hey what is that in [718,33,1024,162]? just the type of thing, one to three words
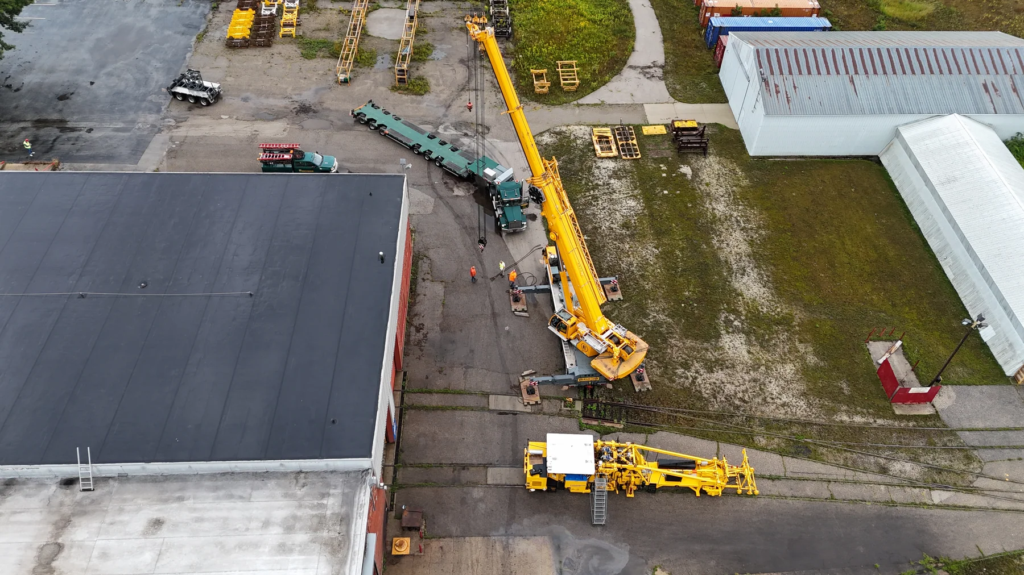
shed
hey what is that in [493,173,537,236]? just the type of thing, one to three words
truck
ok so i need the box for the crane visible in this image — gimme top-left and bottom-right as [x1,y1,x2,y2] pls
[463,19,647,394]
